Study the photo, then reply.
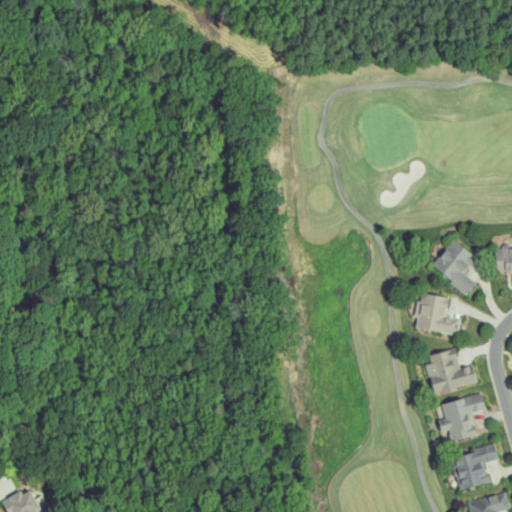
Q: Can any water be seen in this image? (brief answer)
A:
No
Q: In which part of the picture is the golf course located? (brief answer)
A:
right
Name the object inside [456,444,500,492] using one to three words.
house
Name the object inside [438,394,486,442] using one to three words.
house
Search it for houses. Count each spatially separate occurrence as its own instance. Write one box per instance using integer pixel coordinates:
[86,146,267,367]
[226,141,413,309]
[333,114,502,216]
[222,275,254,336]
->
[496,244,512,274]
[425,348,478,394]
[415,294,460,336]
[435,240,478,294]
[438,394,486,442]
[456,444,500,492]
[466,492,512,512]
[2,489,46,512]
